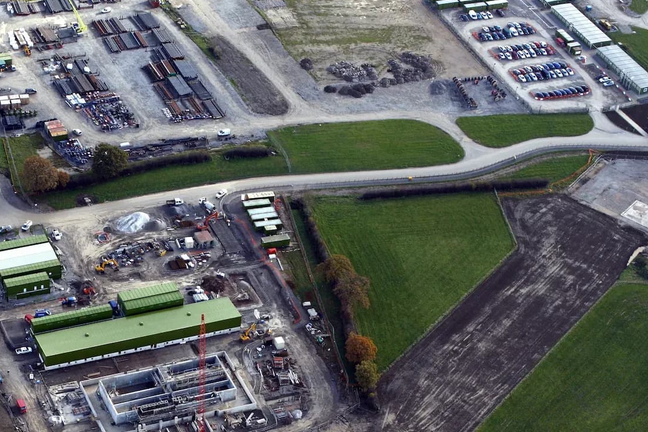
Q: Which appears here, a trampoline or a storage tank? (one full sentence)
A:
It is a storage tank that can be seen here.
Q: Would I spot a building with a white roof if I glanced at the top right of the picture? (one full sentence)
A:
Yes, a building with a white roof is visible at the top right of the picture.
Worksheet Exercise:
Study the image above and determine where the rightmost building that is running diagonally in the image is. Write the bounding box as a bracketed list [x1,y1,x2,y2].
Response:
[596,45,648,94]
